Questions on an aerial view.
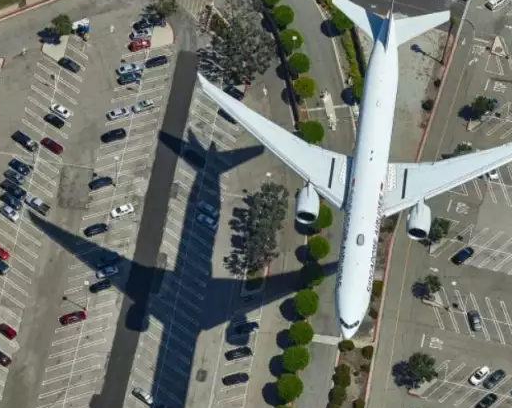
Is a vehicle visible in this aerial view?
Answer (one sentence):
Yes, a vehicle can be made out from above.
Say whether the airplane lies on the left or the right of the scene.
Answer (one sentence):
The airplane is on the right side of the image.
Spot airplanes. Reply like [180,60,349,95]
[198,0,512,341]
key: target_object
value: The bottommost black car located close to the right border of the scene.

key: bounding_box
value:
[476,393,497,408]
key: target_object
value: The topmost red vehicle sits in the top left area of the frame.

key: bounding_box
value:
[128,38,152,52]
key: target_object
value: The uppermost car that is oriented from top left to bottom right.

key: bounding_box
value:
[59,55,81,73]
